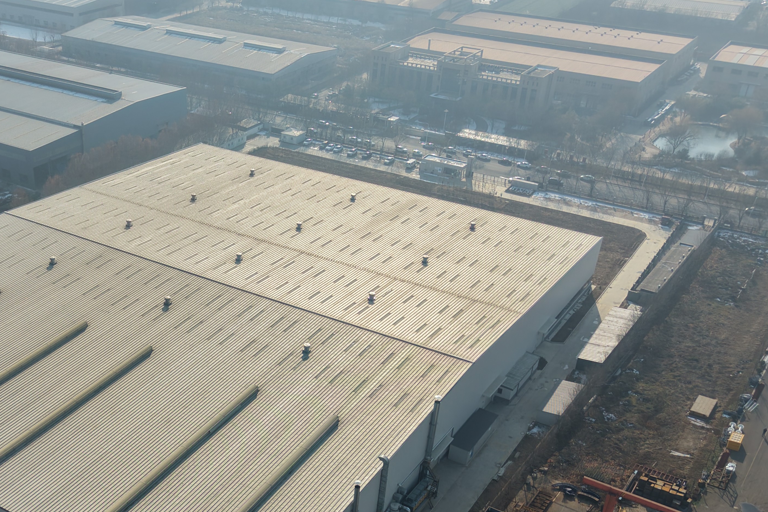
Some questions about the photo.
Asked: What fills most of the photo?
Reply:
buildings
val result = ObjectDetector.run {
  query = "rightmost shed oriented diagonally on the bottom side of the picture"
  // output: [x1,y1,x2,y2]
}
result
[575,307,640,376]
